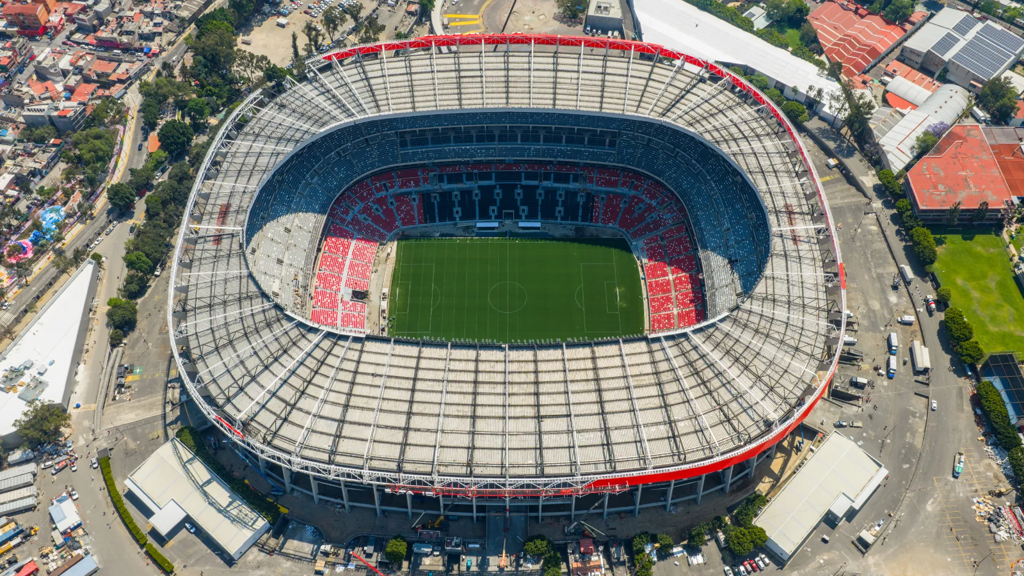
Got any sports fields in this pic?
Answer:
Yes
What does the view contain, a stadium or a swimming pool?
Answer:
stadium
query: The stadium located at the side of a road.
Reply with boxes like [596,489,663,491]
[167,34,847,528]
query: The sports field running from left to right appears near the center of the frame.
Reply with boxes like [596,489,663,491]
[387,237,647,343]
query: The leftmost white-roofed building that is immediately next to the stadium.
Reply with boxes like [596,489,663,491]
[0,259,103,455]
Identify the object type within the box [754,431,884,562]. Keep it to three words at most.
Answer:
building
